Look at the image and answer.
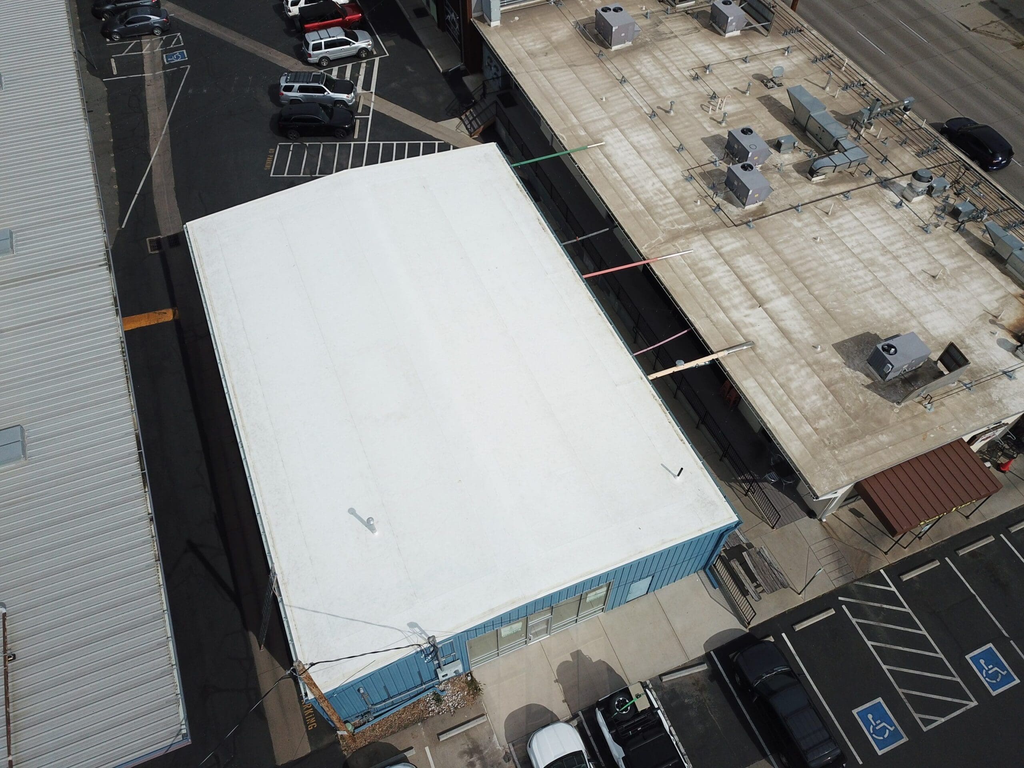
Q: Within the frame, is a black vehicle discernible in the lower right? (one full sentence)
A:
Yes, you'll find a black vehicle in the lower right.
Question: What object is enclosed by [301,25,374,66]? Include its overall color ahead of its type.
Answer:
gray car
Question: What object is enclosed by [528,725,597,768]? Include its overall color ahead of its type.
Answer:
white car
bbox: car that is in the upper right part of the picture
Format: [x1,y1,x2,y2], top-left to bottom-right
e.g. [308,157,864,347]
[941,113,1020,170]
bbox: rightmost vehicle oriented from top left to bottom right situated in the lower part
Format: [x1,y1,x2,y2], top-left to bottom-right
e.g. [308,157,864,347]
[733,640,849,768]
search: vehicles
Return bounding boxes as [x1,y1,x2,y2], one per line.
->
[293,0,361,30]
[395,760,431,768]
[528,725,597,768]
[274,98,358,140]
[941,113,1020,170]
[301,25,374,66]
[595,681,685,768]
[280,65,357,106]
[100,5,169,40]
[733,640,849,768]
